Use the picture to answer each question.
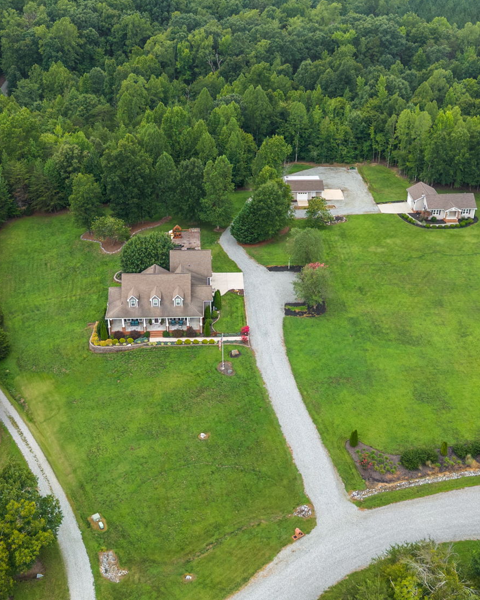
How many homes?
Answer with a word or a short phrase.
2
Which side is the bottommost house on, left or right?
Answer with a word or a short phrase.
left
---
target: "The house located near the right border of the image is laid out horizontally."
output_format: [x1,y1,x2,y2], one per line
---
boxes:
[406,182,477,223]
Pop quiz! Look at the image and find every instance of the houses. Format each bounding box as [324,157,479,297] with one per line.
[406,182,477,223]
[105,249,212,338]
